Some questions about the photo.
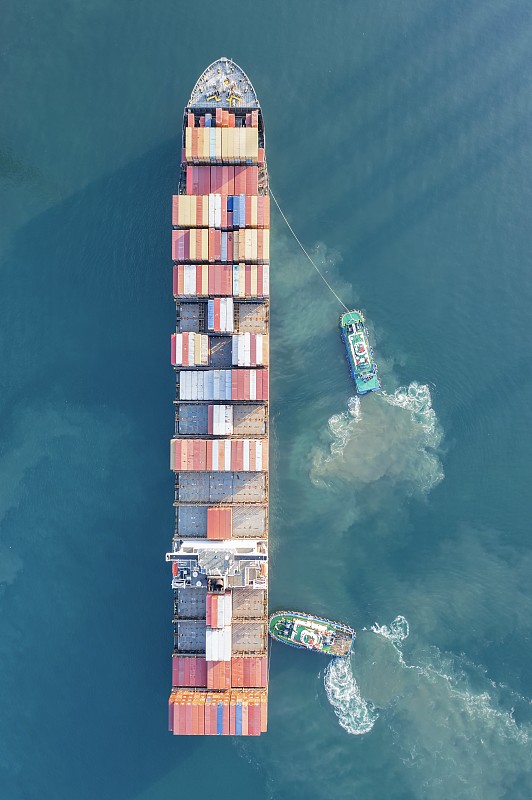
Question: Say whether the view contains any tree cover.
No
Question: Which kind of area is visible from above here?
port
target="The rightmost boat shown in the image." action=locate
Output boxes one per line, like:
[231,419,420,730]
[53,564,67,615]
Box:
[341,310,380,394]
